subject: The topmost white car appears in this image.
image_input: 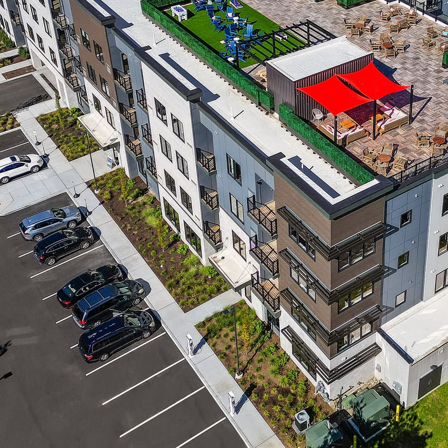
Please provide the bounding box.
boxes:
[0,152,45,184]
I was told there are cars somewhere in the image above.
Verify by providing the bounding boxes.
[0,152,45,184]
[15,204,82,245]
[28,225,96,267]
[76,308,159,366]
[51,261,125,308]
[68,277,149,329]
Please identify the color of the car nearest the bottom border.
black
